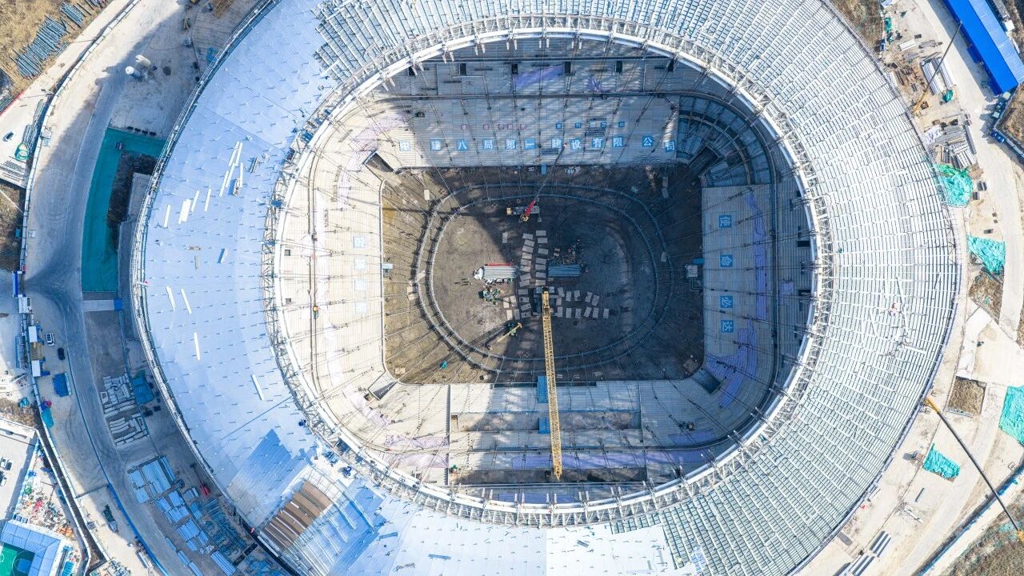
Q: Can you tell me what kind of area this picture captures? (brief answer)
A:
sports ground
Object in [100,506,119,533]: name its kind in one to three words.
vehicle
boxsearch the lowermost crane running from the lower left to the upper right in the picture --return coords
[506,144,566,223]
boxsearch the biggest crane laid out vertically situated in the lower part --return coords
[536,287,562,481]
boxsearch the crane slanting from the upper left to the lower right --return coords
[917,388,1024,538]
